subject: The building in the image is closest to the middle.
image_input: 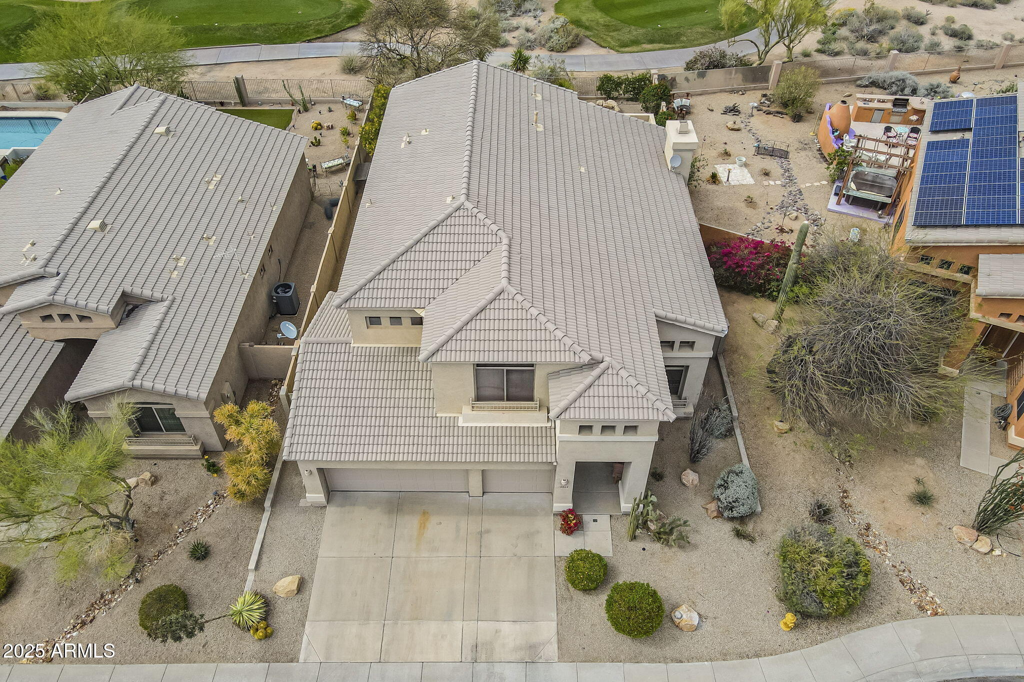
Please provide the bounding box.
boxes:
[279,56,731,514]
